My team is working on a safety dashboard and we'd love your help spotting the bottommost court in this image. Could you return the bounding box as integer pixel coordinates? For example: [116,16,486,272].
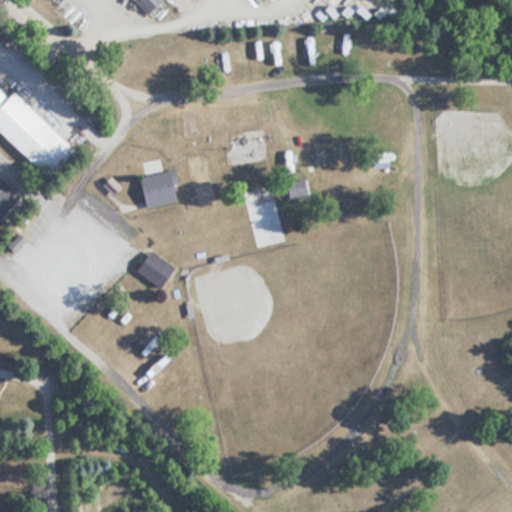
[247,188,285,248]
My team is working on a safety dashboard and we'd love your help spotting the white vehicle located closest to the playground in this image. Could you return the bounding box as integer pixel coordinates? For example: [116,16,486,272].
[284,147,298,173]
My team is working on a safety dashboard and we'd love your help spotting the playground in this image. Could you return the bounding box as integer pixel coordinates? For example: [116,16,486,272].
[228,131,266,166]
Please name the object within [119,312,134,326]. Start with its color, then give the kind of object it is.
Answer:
white vehicle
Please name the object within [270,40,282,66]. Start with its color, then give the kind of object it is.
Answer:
white vehicle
